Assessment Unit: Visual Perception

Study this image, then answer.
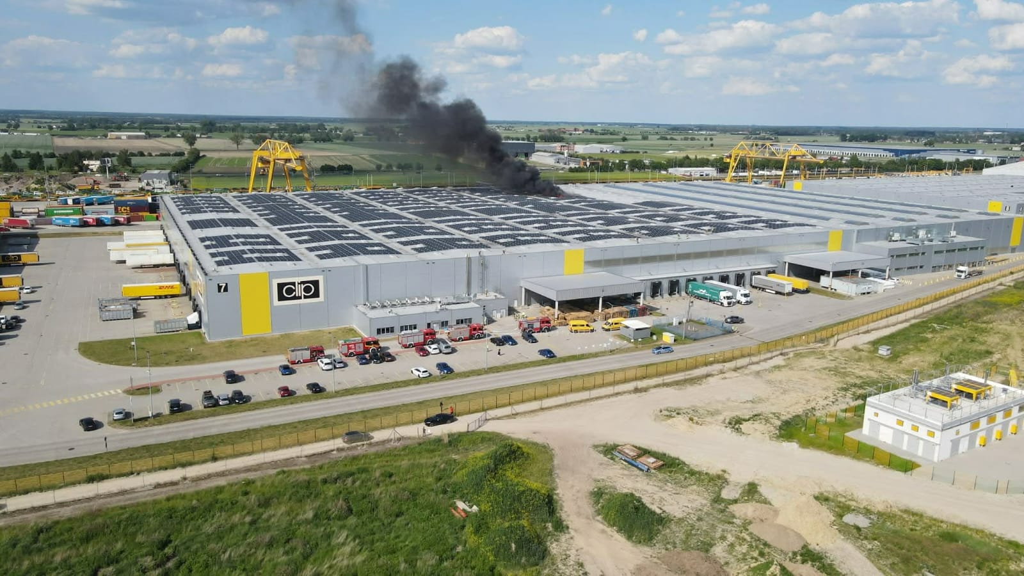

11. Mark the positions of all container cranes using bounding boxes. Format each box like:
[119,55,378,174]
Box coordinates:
[247,138,313,192]
[735,138,822,180]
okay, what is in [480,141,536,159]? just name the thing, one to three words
building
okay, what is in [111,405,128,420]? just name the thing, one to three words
car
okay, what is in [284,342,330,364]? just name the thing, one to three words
truck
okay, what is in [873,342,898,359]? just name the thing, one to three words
shed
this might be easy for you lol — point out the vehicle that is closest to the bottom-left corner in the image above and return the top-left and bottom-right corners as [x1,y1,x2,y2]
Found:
[77,415,100,431]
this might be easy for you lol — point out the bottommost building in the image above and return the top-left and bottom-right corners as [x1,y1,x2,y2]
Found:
[859,364,1024,463]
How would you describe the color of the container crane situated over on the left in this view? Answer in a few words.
yellow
